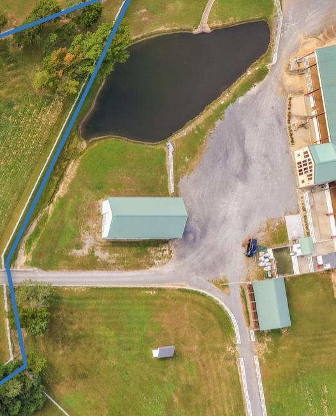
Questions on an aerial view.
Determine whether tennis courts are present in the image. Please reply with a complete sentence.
No, the picture doesn't show any tennis court.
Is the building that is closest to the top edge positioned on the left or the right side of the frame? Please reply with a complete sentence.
The building that is closest to the top edge is on the right side of the image.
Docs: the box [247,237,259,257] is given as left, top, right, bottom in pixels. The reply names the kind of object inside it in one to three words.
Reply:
vehicle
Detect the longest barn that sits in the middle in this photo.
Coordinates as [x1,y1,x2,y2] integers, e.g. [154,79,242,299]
[102,197,187,239]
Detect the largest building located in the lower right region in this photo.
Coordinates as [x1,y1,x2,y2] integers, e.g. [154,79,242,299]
[246,277,291,331]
